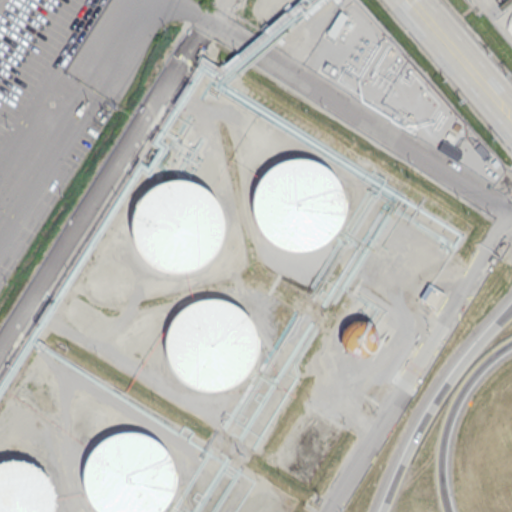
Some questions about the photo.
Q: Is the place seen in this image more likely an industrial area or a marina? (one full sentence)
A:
What you see here is an industrial area.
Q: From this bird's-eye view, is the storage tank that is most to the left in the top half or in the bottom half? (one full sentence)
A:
The storage tank that is most to the left is in the bottom half of the image.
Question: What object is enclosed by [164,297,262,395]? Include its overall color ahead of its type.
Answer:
white storage tank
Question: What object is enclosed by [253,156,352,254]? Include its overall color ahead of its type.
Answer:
white storage tank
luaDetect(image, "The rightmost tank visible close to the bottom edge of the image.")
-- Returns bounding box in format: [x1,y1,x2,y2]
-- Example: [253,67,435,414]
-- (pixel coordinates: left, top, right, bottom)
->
[84,430,180,512]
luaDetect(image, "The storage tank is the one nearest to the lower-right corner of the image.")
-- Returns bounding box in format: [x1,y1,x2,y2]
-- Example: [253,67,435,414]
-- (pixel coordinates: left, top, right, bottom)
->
[342,320,390,358]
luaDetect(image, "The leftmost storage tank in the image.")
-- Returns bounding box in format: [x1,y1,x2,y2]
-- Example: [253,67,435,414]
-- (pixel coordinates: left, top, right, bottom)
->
[0,458,62,512]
